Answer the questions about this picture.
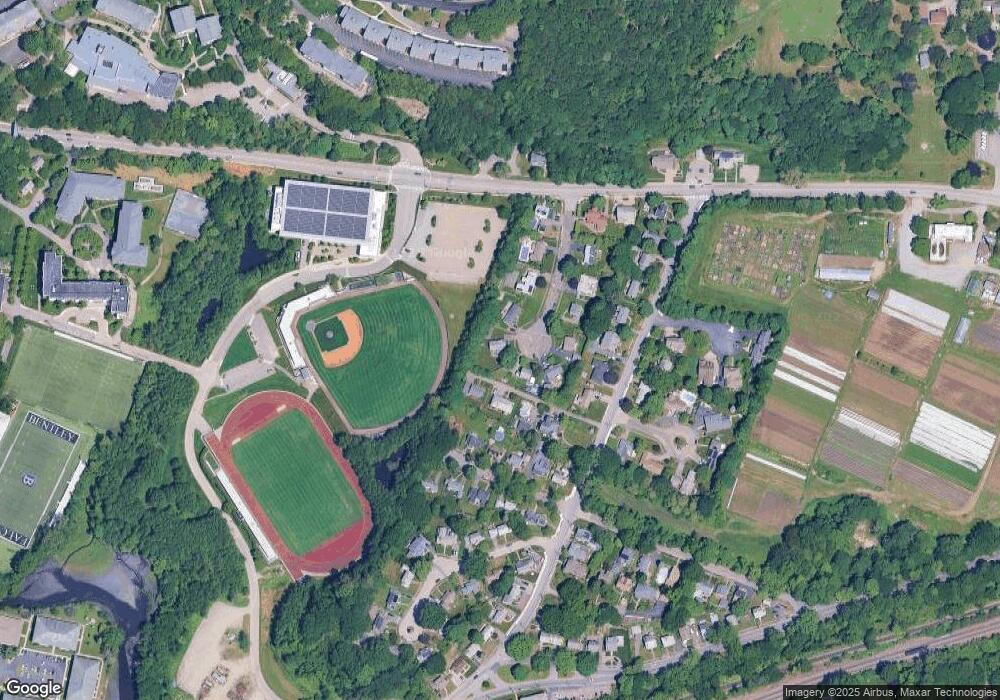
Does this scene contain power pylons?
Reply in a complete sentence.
No, there appears to be no power pylon in this shot.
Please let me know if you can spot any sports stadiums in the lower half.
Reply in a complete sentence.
No, no sports stadium can be made out in the lower half.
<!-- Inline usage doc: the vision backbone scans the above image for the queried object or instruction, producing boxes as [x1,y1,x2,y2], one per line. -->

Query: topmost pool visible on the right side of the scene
[680,388,697,406]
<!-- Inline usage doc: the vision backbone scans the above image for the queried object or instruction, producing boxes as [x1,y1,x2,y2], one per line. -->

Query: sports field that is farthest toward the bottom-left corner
[0,398,96,552]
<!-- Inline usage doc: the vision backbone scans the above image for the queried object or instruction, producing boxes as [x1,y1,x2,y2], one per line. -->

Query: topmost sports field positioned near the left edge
[5,326,145,435]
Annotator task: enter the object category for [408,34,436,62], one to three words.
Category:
building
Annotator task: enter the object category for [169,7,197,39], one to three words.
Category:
building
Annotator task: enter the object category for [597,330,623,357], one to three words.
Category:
house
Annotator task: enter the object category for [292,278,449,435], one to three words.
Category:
baseball field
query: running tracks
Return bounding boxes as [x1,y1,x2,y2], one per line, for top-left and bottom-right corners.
[204,390,372,582]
